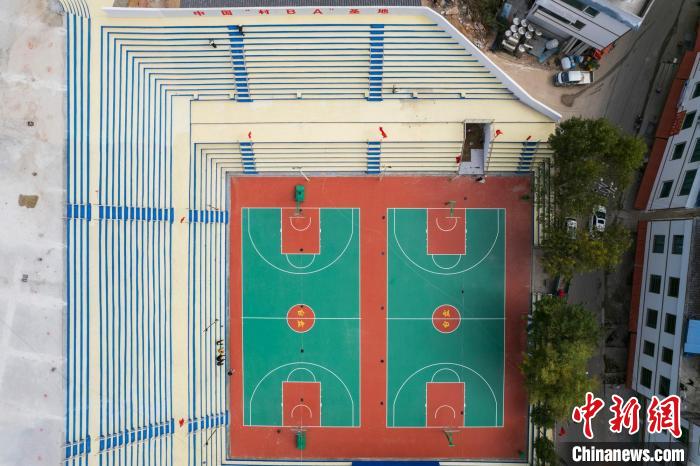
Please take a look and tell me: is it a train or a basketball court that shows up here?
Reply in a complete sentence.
The one in the frame is a basketball court.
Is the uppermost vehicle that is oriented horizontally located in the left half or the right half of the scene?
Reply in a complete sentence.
The uppermost vehicle that is oriented horizontally is on the right side of the image.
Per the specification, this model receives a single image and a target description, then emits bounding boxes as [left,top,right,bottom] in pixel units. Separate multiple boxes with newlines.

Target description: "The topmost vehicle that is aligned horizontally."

[550,68,594,88]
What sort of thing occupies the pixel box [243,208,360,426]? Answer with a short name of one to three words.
basketball court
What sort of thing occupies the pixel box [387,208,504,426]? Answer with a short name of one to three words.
basketball court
